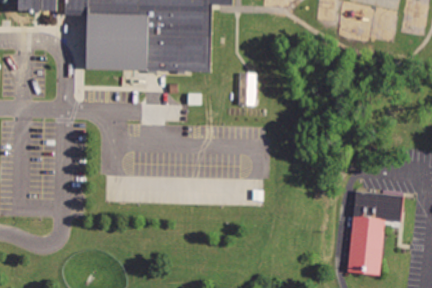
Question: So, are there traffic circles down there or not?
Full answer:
No, I find no traffic circle anywhere in the image.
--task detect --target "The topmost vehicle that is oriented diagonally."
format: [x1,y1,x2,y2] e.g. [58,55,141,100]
[3,54,18,71]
